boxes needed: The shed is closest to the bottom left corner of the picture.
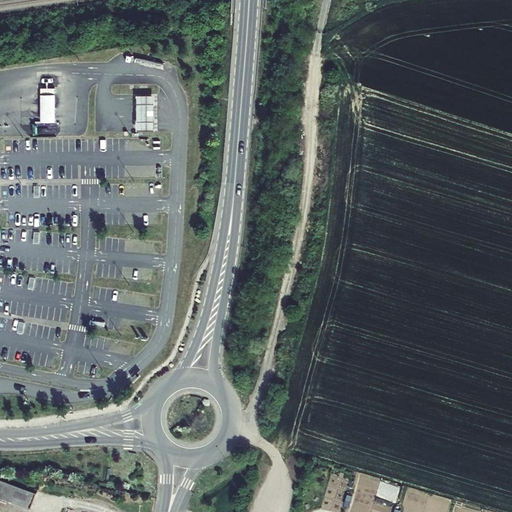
[0,482,34,510]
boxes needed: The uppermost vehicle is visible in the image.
[124,56,162,70]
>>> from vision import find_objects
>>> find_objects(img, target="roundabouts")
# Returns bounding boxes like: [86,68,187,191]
[143,370,240,466]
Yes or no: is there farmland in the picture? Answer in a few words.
Yes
